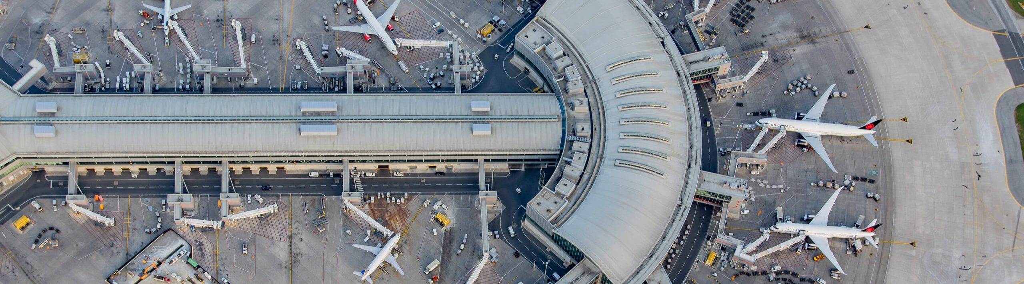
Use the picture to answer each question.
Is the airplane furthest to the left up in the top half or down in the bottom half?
top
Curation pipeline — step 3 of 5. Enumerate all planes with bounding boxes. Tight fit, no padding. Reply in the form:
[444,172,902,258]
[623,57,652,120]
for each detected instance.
[142,0,191,35]
[755,85,881,173]
[770,186,882,277]
[353,234,404,284]
[333,0,402,55]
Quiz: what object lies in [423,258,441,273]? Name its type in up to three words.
vehicle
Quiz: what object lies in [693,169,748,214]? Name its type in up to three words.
building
